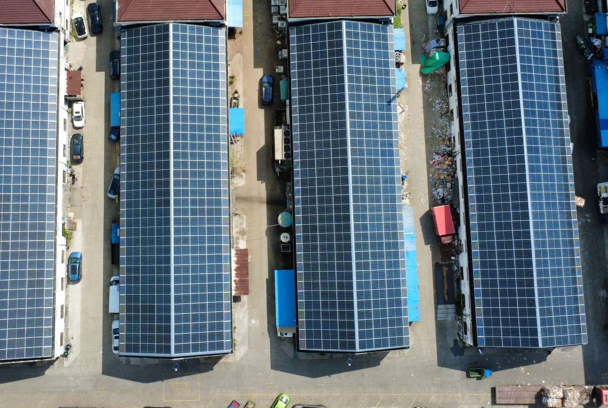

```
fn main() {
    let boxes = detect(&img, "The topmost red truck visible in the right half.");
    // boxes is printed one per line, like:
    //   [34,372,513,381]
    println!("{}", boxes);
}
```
[426,205,455,246]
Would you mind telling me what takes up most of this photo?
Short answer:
buildings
